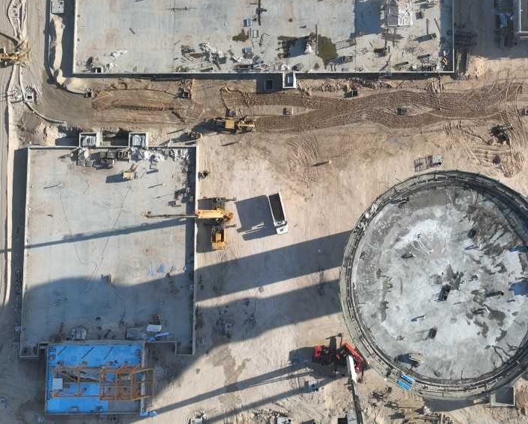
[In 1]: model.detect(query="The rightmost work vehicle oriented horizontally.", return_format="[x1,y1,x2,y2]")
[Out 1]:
[210,116,259,133]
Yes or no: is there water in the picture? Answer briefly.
Yes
